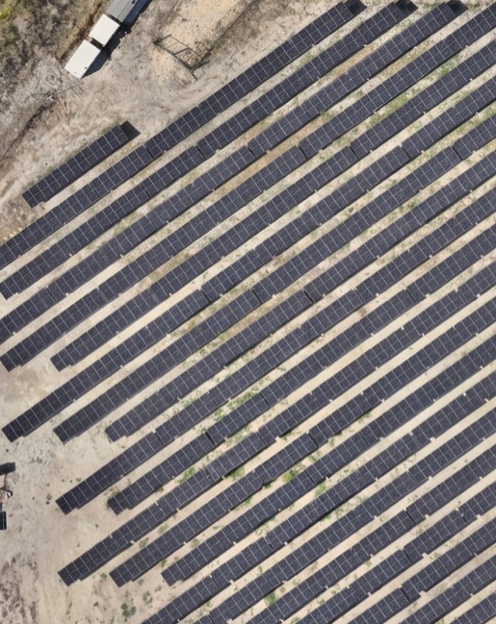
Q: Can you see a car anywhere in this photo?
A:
No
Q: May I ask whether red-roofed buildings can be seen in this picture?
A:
No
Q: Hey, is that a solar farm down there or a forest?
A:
solar farm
